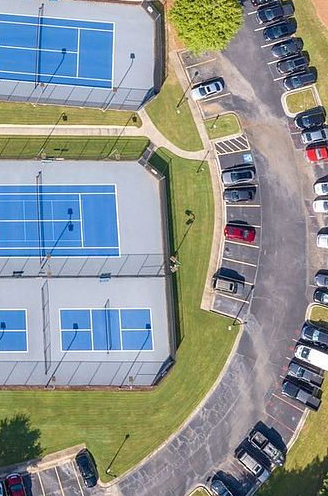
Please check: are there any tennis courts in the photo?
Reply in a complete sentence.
Yes, looking at the shot, I can spot a tennis court.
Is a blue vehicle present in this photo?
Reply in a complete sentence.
Yes, the photo shows a blue vehicle.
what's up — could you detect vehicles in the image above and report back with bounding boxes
[7,468,24,496]
[222,226,256,241]
[299,128,328,143]
[313,272,328,286]
[282,360,328,391]
[75,450,96,488]
[315,234,328,248]
[312,199,328,214]
[237,451,271,481]
[191,81,224,98]
[270,39,304,56]
[249,0,275,6]
[246,431,287,466]
[310,290,328,306]
[210,476,236,496]
[292,111,327,128]
[303,143,328,159]
[277,380,322,413]
[282,70,317,88]
[313,179,328,195]
[220,170,256,185]
[262,21,296,38]
[222,187,257,202]
[272,53,314,74]
[258,2,299,23]
[299,323,328,347]
[211,278,243,294]
[293,344,328,371]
